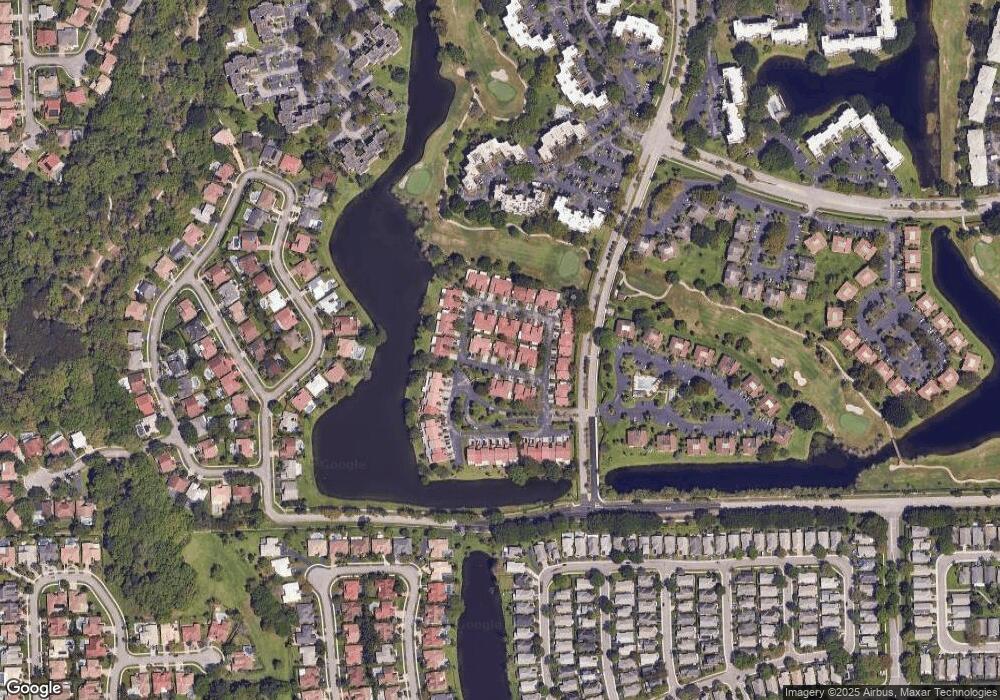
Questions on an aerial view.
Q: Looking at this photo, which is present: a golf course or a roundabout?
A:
golf course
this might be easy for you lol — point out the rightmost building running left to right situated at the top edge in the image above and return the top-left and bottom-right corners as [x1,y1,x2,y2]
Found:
[822,33,882,56]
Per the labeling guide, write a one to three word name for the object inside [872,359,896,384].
house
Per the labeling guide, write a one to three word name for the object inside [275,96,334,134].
building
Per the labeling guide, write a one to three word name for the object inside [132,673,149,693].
house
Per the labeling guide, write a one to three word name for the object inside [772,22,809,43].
building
